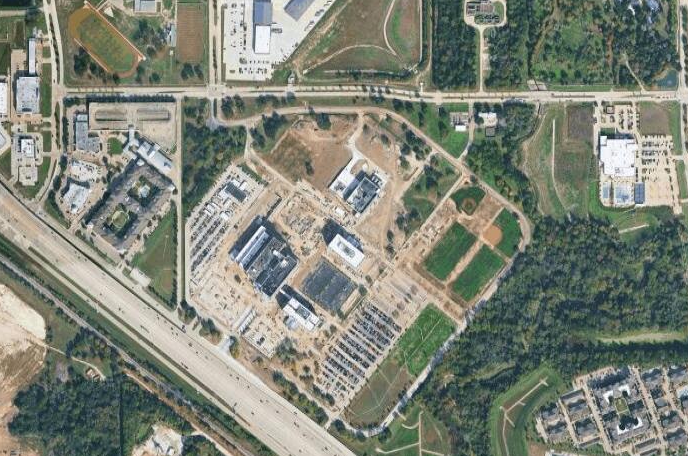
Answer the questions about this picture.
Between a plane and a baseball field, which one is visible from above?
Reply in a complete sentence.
The image shows a baseball field.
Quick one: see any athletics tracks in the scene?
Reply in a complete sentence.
Yes, an athletics track can be made out from above.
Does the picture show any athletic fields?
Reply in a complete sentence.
Yes, an athletic field is visible in the scene.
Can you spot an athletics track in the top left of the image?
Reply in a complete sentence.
Yes, an athletics track shows up in the top left of the image.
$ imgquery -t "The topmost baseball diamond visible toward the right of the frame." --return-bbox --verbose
[451,187,486,221]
